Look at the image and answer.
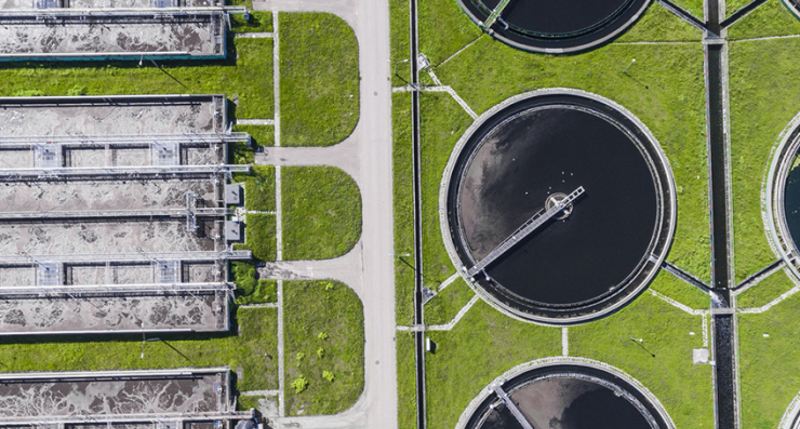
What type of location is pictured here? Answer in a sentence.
The picture captures an industrial area.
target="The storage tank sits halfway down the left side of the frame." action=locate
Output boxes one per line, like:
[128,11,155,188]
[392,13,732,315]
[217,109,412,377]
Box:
[0,95,254,335]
